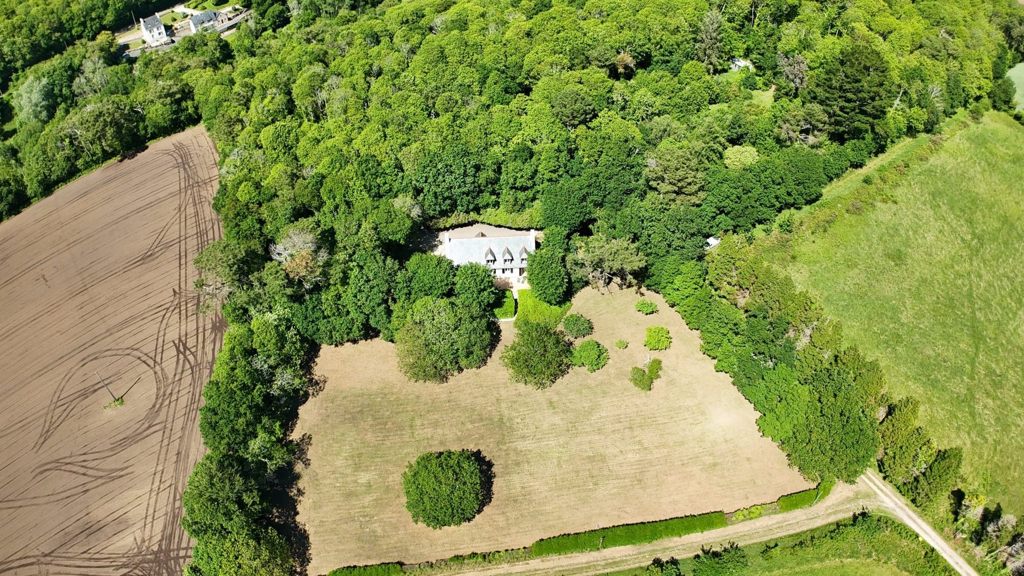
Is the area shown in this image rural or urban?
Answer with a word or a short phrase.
rural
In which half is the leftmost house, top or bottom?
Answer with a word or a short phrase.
top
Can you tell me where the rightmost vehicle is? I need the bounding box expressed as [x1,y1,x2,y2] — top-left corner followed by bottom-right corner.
[705,236,724,250]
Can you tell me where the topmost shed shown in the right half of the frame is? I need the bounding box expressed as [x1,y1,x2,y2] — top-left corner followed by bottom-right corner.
[727,59,751,79]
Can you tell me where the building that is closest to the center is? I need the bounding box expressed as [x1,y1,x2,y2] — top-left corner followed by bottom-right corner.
[445,227,536,278]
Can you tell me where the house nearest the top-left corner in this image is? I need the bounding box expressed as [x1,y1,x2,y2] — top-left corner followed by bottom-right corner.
[138,10,179,52]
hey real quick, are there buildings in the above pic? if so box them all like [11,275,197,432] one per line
[445,227,536,278]
[138,10,179,52]
[191,8,240,37]
[727,59,751,79]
